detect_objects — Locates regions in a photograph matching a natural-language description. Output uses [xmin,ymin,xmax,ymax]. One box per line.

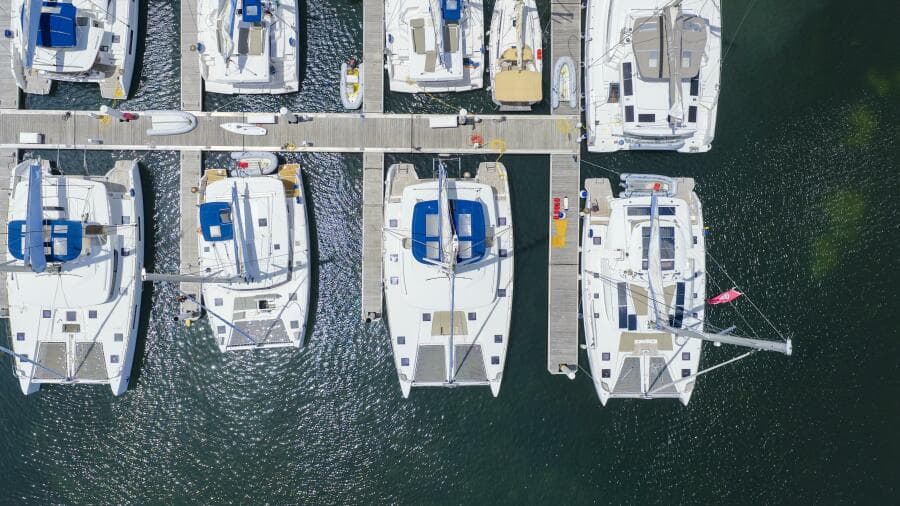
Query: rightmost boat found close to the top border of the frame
[581,0,757,153]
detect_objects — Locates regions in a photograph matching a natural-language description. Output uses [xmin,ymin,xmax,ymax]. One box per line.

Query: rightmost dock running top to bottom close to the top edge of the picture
[551,0,581,114]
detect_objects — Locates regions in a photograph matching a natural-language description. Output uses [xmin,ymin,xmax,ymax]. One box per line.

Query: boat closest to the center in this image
[383,154,514,398]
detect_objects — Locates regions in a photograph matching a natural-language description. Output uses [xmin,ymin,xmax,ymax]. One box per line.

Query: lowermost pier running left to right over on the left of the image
[0,110,581,154]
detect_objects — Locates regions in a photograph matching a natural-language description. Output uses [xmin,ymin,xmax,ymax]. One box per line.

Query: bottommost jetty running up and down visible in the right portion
[548,154,578,374]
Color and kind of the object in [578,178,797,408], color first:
white boat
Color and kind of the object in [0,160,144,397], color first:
white boat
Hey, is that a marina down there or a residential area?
marina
